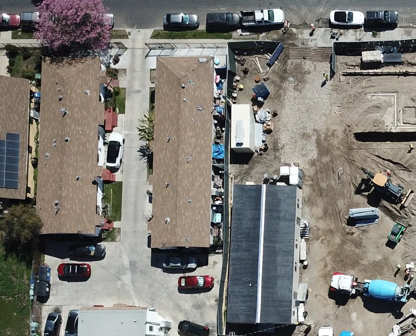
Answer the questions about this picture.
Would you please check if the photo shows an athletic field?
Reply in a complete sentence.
No, there is no athletic field in the image.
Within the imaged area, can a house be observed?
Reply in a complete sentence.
Yes, a house appears in the view.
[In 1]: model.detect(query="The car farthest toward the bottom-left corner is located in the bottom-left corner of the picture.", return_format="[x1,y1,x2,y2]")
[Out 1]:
[44,312,64,336]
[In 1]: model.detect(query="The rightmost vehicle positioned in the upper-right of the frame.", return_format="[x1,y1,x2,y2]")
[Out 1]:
[366,10,399,28]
